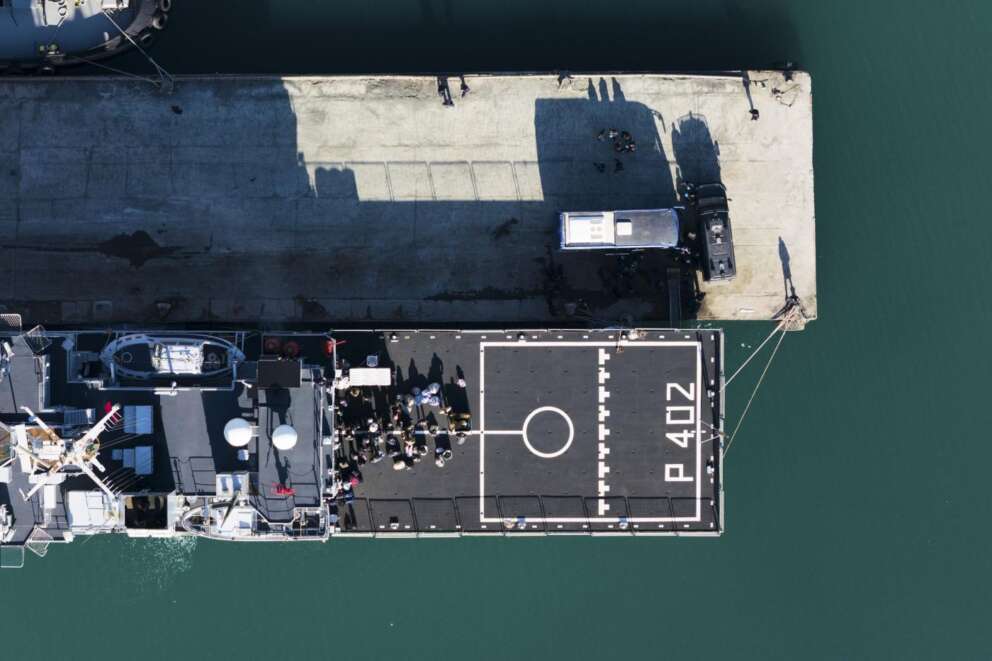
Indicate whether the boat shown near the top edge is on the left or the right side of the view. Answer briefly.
left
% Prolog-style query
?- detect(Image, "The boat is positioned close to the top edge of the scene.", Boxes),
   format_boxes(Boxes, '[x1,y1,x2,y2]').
[0,0,170,74]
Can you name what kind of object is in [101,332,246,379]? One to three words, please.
boat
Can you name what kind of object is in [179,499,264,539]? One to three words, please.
boat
